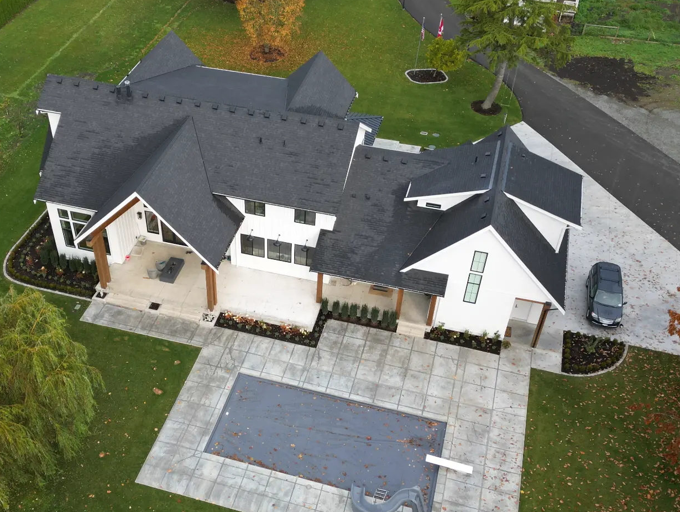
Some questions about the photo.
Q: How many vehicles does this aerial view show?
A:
1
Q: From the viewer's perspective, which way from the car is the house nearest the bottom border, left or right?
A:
left of it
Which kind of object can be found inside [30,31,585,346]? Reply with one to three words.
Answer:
house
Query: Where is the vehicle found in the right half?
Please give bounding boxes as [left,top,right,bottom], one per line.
[586,261,629,330]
